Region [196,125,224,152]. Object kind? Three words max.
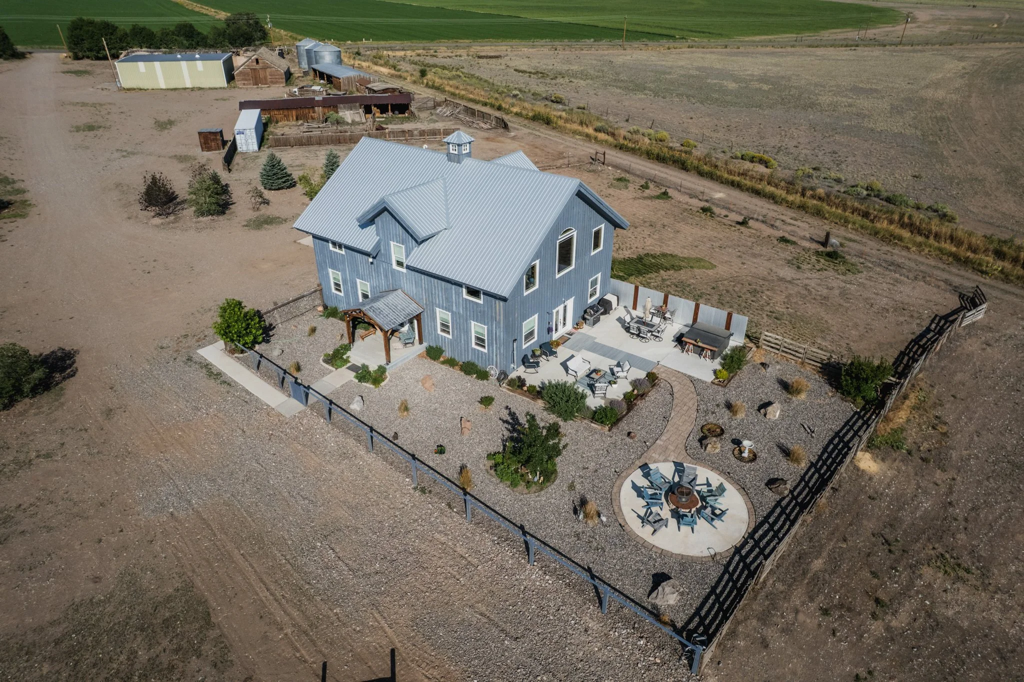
shed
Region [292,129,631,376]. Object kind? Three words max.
house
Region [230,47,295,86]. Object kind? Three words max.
barn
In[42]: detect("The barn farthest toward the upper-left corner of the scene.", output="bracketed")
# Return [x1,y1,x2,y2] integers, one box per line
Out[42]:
[114,52,237,87]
